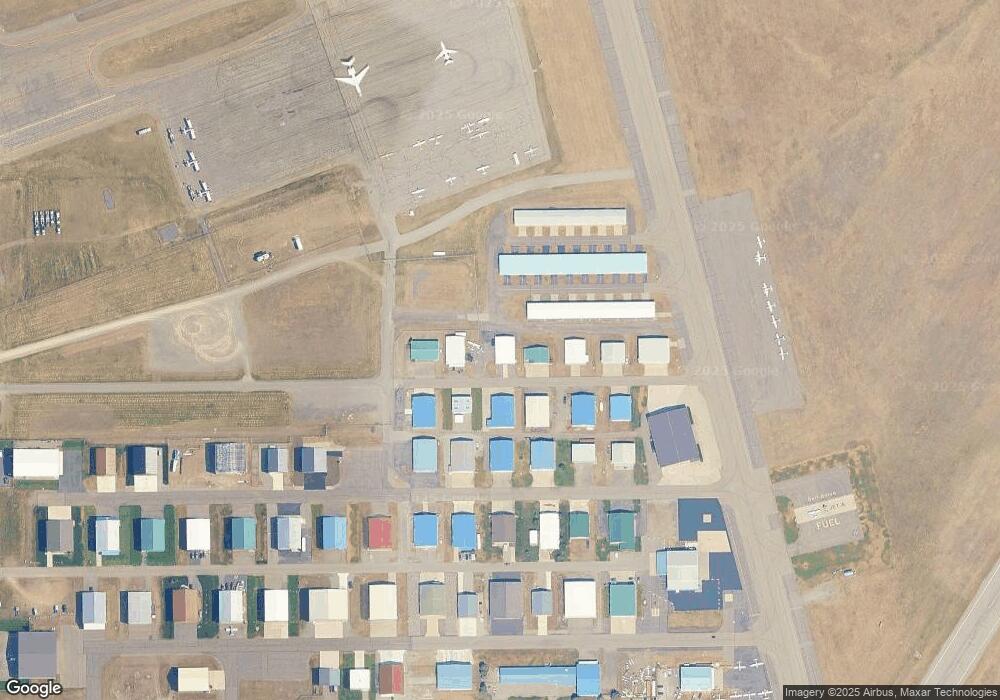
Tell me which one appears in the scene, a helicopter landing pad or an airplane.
airplane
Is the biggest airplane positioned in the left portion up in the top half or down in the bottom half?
top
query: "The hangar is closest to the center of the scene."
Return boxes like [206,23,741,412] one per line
[495,336,515,364]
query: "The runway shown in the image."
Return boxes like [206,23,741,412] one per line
[0,0,310,165]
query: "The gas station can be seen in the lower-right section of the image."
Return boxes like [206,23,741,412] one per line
[774,466,864,557]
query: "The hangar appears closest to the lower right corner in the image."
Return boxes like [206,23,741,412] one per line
[681,667,713,691]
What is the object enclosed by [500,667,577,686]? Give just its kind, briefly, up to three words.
building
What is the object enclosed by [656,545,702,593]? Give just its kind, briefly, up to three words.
building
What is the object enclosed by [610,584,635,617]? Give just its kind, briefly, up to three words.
hangar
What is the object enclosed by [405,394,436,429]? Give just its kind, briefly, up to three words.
hangar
